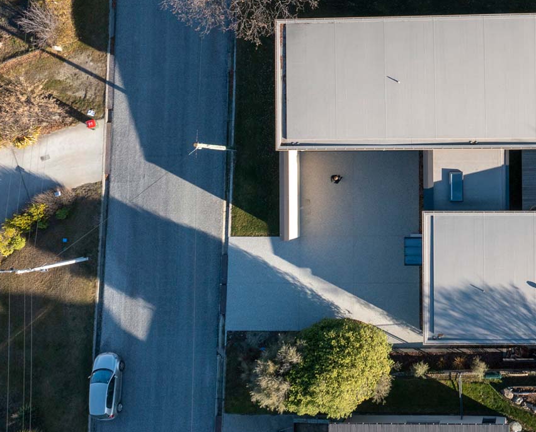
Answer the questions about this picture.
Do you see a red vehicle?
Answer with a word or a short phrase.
No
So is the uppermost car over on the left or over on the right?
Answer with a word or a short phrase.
left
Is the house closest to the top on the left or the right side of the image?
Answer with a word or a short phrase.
right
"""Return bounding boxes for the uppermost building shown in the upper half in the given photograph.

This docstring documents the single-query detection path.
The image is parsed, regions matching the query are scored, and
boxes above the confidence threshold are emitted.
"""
[276,13,536,151]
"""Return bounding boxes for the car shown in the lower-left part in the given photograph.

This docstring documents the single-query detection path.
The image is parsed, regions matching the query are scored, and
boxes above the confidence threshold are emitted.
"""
[89,354,126,423]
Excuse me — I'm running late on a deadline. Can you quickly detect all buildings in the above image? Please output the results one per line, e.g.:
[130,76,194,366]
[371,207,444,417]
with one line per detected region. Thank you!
[276,13,536,151]
[327,405,511,432]
[423,209,536,346]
